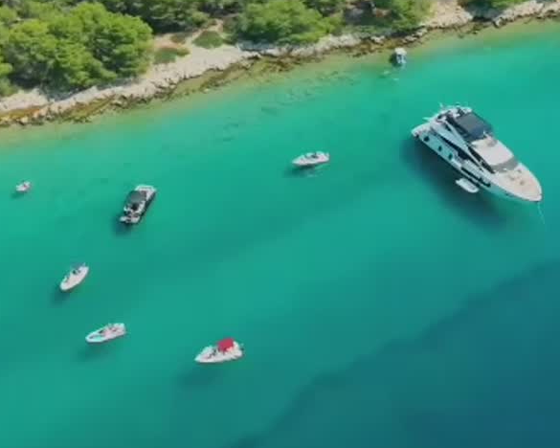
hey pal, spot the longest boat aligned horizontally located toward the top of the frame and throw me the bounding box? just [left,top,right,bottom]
[292,156,331,169]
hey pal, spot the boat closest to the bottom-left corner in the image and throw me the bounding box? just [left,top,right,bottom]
[86,326,129,345]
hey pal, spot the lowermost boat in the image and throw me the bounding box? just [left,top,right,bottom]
[196,343,244,367]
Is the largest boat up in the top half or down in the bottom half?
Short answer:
top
